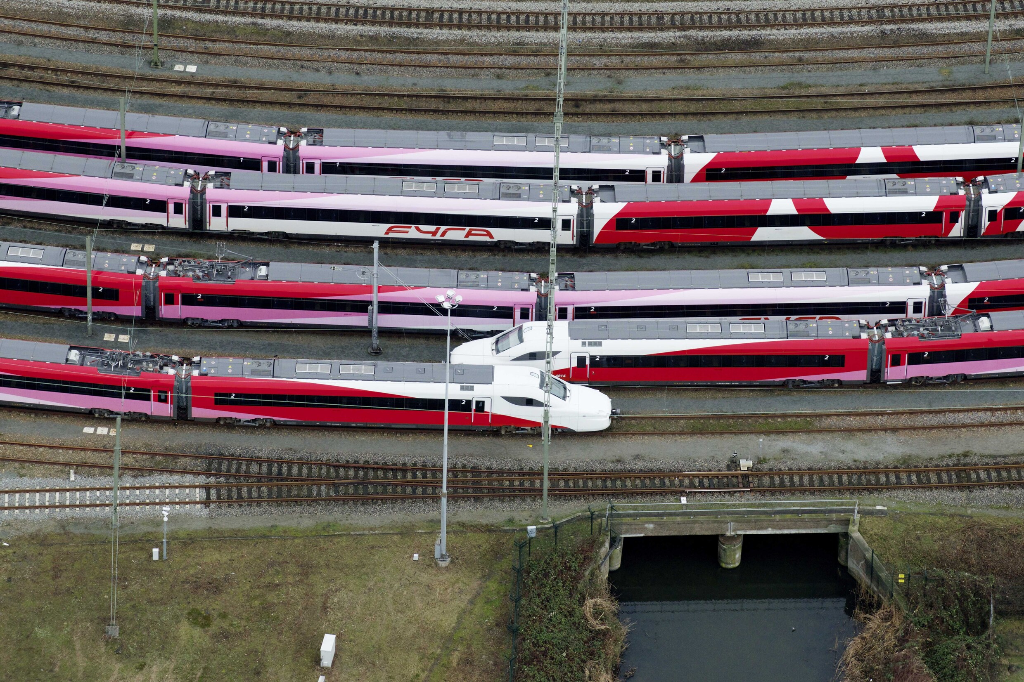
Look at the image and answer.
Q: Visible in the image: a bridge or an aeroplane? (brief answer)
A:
bridge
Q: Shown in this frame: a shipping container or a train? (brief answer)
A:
train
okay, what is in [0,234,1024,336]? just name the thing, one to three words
train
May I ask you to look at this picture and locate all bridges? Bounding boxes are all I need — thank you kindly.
[605,507,858,562]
